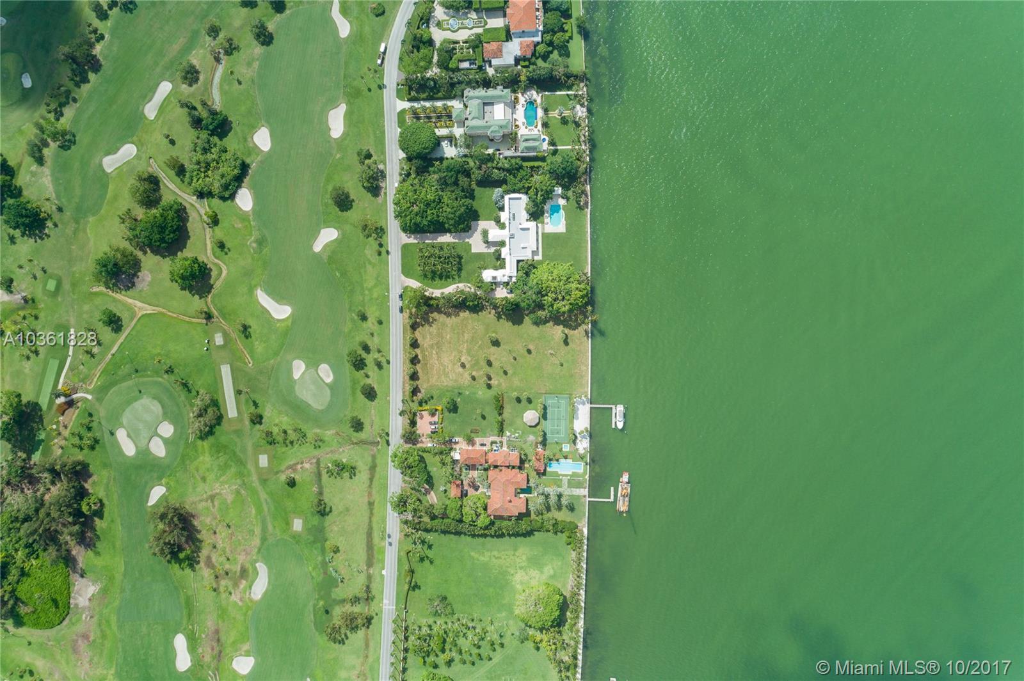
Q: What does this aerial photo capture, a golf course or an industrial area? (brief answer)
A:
golf course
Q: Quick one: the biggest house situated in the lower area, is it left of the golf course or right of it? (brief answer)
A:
on the right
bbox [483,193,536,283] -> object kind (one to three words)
house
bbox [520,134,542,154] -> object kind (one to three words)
building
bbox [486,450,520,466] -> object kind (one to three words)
house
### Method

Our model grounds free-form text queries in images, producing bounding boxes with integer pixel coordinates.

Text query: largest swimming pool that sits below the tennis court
[548,459,582,474]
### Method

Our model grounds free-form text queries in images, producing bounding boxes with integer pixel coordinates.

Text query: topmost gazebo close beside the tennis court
[524,410,539,425]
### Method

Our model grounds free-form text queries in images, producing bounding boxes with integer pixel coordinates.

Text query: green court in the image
[543,395,569,443]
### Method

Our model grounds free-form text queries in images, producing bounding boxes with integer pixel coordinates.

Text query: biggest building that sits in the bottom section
[488,468,527,516]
